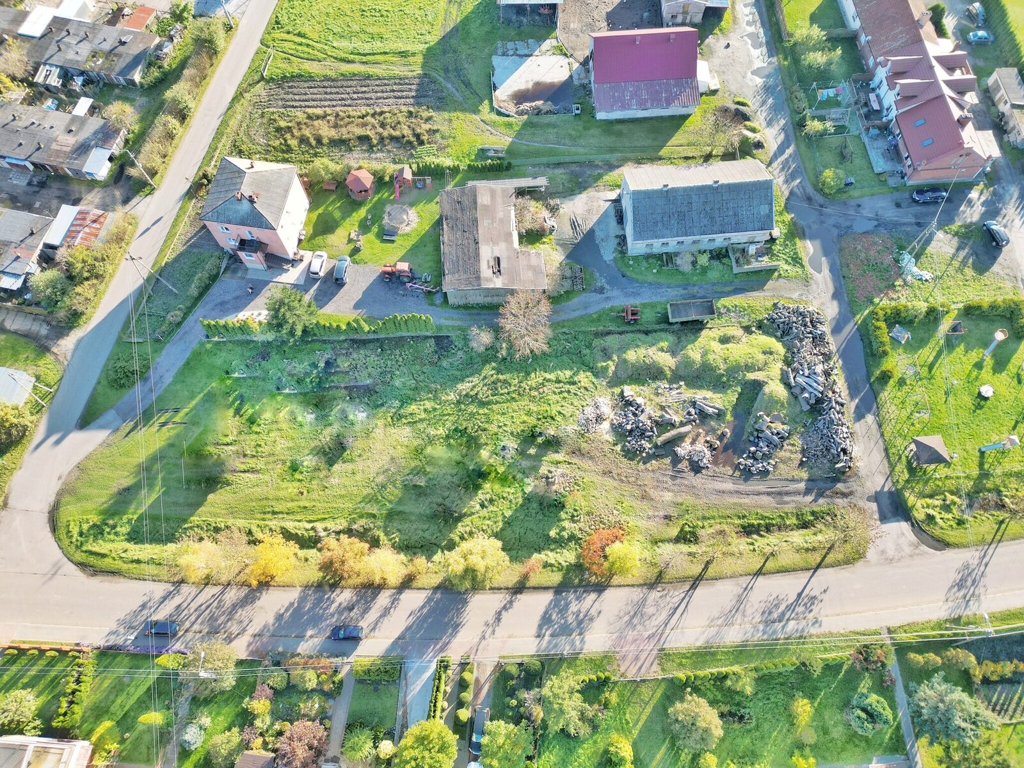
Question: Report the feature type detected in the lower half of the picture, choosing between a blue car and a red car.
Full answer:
What appears in the lower half of the picture is a blue car.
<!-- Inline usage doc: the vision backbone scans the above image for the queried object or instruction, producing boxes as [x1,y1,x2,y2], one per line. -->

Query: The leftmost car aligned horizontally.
[144,619,181,637]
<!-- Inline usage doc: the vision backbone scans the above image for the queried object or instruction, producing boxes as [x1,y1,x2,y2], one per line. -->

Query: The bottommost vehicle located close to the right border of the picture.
[981,222,1012,248]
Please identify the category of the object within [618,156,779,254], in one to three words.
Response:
barn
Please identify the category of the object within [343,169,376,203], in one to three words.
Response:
gazebo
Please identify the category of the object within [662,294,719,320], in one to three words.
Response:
trailer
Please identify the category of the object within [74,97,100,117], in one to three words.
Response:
shed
